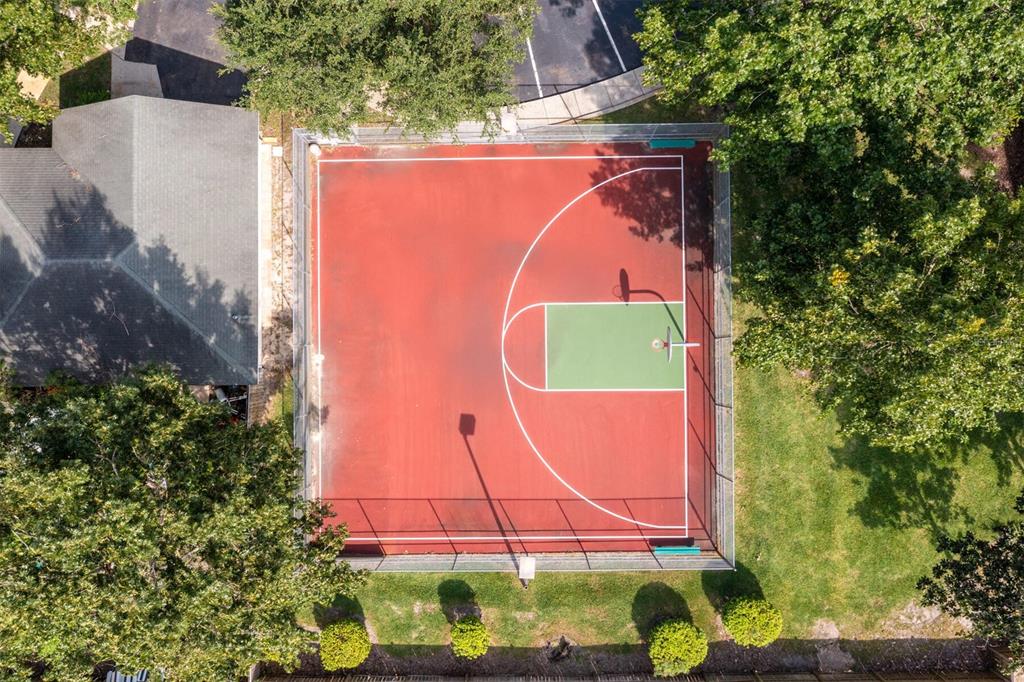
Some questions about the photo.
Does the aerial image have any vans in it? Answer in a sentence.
No, the frame has no van in it.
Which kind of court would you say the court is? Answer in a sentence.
I'd identify the court as a basketball court.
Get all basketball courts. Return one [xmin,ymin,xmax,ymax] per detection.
[306,136,723,560]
